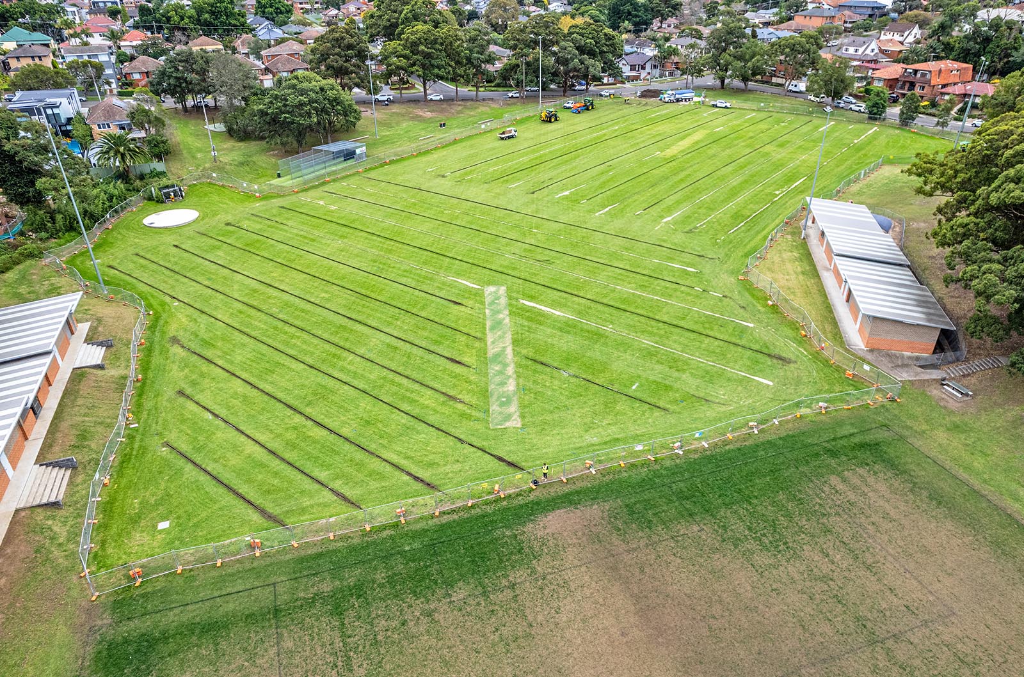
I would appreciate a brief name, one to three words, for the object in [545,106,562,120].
work vehicle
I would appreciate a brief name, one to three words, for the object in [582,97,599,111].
work vehicle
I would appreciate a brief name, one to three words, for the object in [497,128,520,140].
vehicle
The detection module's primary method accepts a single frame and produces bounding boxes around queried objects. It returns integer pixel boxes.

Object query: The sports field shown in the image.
[483,285,522,429]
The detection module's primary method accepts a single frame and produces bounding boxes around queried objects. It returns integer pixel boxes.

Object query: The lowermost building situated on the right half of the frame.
[805,195,957,352]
